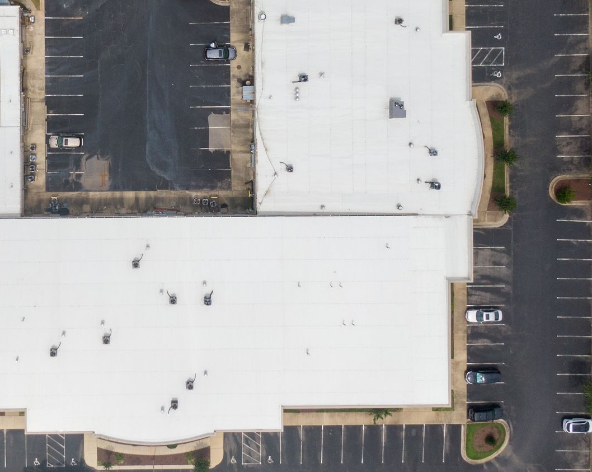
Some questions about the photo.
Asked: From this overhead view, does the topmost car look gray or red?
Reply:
gray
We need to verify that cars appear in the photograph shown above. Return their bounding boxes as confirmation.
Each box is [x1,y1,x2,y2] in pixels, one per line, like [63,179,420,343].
[464,368,503,386]
[49,132,84,149]
[467,405,502,423]
[205,40,236,61]
[562,417,592,434]
[464,308,503,324]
